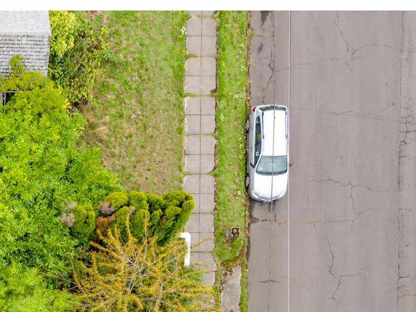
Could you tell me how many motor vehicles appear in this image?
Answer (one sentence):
The photo contains exactly 1 motor vehicle.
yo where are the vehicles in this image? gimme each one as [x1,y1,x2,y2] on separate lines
[243,104,294,202]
